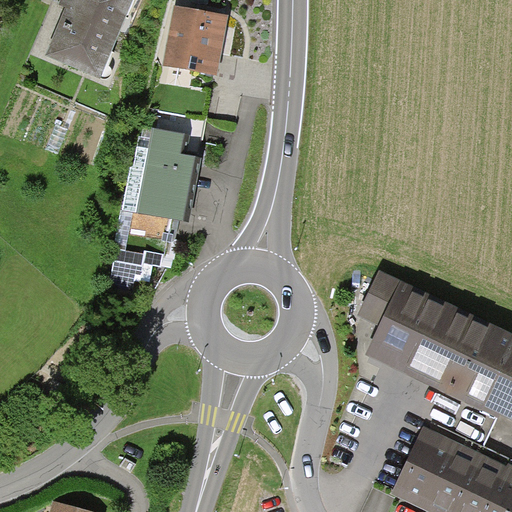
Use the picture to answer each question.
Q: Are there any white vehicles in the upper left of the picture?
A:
No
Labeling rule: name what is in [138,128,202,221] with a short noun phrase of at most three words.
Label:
building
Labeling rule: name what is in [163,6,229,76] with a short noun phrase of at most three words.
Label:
house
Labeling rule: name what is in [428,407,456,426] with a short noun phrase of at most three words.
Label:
vehicle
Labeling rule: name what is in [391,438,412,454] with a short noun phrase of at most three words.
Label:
car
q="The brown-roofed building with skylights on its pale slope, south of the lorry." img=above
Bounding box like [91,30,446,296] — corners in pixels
[390,426,512,512]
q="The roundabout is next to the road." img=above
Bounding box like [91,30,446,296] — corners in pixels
[186,246,318,378]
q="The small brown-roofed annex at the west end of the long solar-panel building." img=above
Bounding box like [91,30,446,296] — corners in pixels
[358,270,400,324]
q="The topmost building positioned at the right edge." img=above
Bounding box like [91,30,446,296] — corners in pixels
[366,280,512,428]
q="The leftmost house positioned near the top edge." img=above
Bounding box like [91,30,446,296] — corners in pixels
[46,0,135,79]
